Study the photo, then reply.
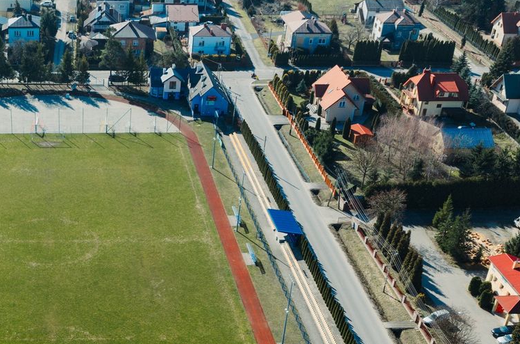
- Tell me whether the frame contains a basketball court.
No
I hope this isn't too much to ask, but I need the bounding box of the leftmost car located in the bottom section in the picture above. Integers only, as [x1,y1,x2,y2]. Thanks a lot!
[425,310,449,325]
